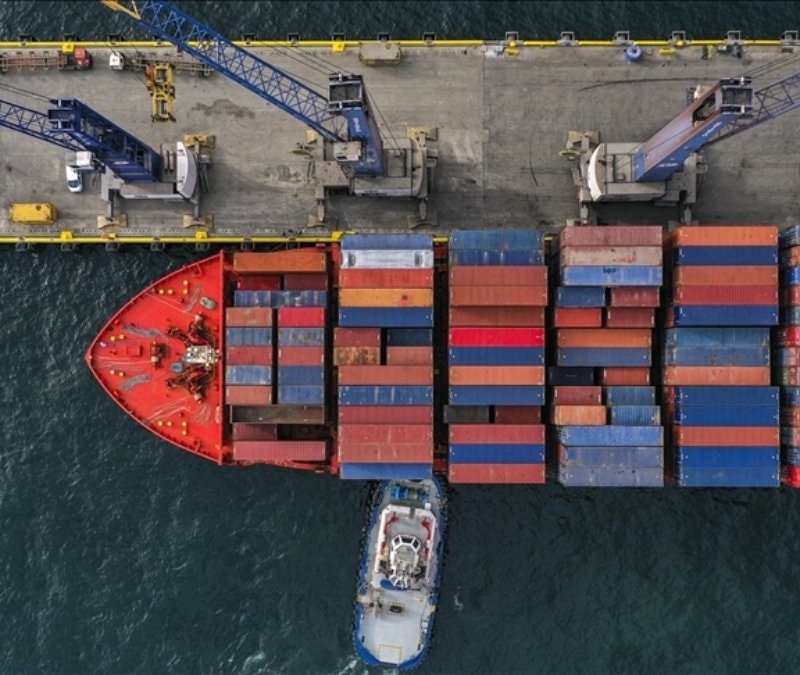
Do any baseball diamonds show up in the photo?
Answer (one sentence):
No, no baseball diamond is visible in the view.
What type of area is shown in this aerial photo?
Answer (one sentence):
What you see here is a port.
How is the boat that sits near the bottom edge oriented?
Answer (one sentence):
In this picture, the boat that sits near the bottom edge lies vertically.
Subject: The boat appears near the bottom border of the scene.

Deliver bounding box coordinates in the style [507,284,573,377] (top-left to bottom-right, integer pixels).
[353,473,447,670]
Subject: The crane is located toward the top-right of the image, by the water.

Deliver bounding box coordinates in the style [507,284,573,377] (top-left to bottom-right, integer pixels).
[562,59,800,228]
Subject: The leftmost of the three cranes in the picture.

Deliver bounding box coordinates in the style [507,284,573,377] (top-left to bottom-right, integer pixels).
[0,80,218,233]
